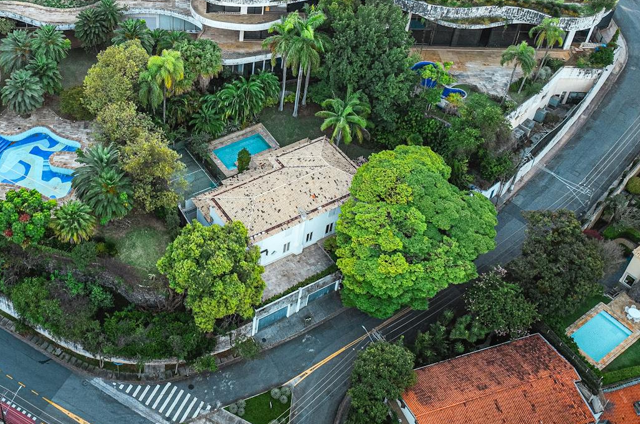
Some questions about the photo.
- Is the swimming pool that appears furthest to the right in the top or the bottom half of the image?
bottom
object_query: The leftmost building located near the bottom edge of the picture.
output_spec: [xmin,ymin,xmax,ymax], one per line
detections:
[397,333,599,424]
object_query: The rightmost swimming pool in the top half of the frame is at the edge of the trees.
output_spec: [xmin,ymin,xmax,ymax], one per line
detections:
[205,123,279,179]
